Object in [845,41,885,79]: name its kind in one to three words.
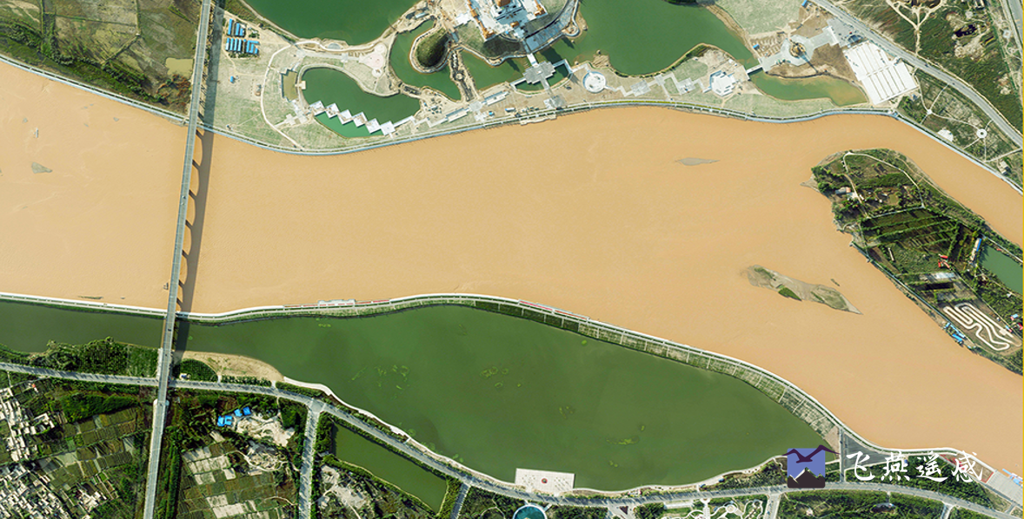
greenhouse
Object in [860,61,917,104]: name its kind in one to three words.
greenhouse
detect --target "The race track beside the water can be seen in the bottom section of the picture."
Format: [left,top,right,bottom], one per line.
[942,302,1023,352]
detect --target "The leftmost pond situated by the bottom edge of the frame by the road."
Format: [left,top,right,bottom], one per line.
[333,424,446,512]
